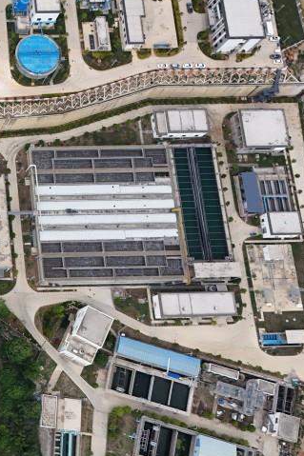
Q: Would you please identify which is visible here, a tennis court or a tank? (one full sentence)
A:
There is a tank in the scene.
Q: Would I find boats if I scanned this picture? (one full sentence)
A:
No, I can see no boat in this picture.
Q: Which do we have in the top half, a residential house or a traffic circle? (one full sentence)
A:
You can see a residential house in the top half.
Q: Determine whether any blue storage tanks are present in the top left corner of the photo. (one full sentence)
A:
Yes, a blue storage tank shows up in the top left corner of the photo.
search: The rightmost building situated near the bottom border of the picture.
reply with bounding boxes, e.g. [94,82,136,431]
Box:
[268,414,300,443]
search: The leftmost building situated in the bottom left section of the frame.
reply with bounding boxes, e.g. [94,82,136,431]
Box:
[38,396,57,428]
